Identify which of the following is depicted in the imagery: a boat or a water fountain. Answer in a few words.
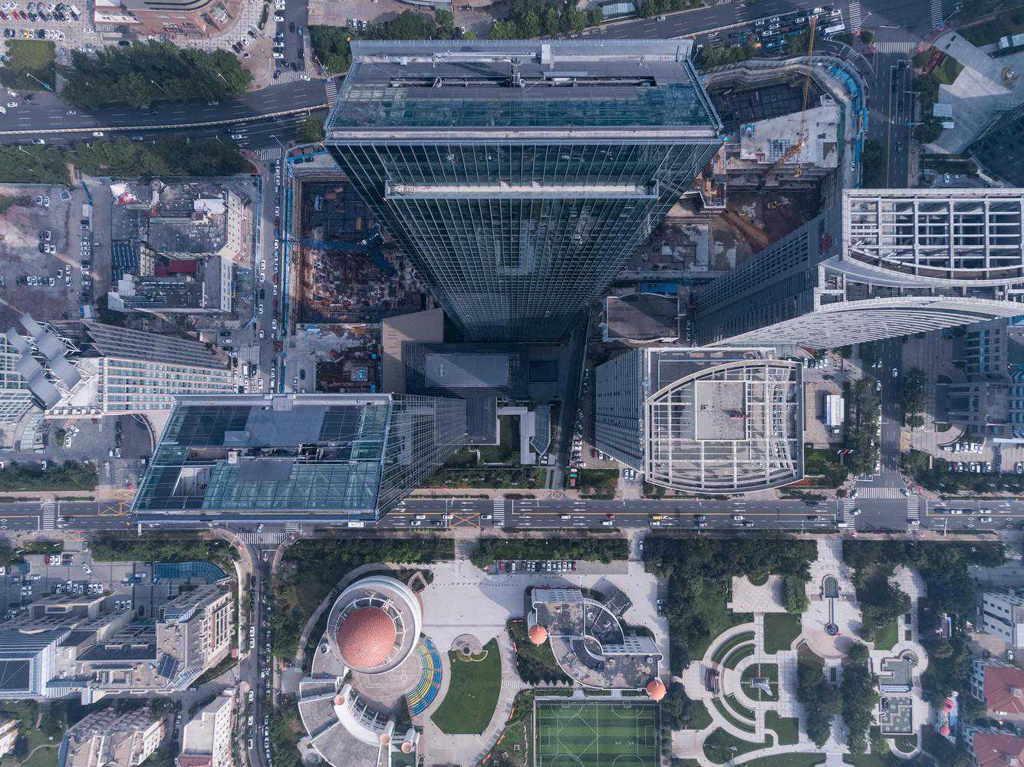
water fountain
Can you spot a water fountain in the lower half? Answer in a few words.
Yes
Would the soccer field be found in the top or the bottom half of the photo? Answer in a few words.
bottom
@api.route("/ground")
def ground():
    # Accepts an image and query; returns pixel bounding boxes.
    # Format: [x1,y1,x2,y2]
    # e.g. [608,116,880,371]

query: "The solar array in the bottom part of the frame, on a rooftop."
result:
[159,651,185,680]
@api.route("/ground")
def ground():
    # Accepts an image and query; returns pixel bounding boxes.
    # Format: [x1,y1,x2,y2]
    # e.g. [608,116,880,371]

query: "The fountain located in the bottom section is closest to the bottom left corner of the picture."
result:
[452,631,488,662]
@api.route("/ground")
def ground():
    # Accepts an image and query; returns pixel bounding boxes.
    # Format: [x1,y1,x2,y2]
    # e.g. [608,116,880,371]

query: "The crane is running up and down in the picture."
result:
[761,16,817,173]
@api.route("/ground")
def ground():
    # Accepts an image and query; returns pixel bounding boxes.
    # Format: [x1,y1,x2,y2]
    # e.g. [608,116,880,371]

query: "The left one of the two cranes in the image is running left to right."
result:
[277,230,400,279]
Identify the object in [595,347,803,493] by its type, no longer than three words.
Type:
building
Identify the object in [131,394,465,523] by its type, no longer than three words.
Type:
building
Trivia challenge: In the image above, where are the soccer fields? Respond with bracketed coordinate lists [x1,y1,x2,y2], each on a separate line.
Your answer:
[533,700,661,767]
